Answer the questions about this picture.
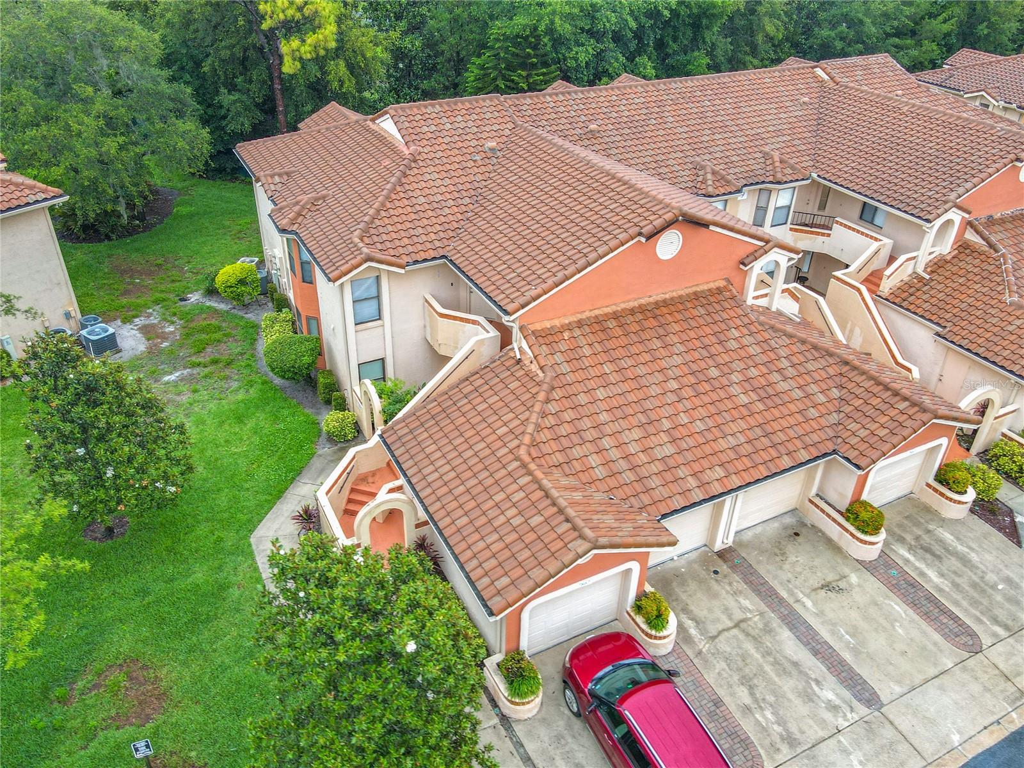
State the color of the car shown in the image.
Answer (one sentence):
In this view, the car is red.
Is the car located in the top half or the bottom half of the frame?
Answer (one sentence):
You can find the car in the bottom half.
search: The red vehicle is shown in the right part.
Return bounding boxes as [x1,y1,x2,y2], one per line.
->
[559,629,745,768]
